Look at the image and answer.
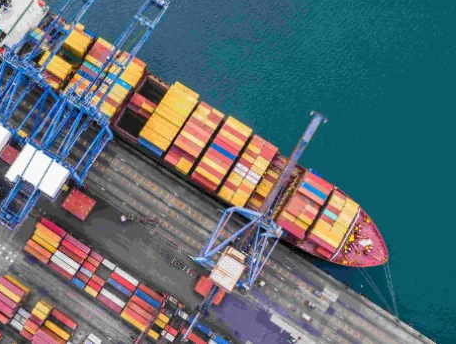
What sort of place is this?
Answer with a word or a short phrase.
port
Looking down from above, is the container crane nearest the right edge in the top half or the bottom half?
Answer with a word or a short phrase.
bottom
